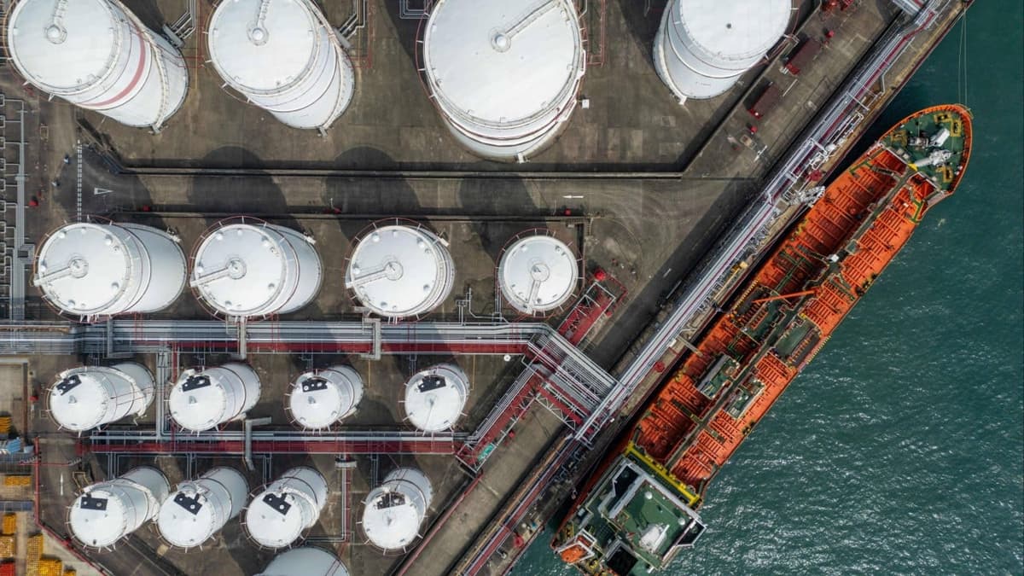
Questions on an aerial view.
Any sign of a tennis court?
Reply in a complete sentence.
No, there's no tennis court here.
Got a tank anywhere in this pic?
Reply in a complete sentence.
Yes, looking at the shot, I can spot a tank.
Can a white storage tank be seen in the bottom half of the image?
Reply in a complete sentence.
Yes, a white storage tank appears in the bottom half of the image.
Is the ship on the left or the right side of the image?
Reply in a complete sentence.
The ship sits on the right side.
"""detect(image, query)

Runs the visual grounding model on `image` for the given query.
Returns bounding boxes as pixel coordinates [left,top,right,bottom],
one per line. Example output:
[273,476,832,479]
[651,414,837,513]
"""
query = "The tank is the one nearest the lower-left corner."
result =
[64,465,173,551]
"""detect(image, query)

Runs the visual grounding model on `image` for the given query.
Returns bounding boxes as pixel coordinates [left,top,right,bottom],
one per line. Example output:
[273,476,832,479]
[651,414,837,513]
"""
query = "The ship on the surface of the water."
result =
[551,100,972,576]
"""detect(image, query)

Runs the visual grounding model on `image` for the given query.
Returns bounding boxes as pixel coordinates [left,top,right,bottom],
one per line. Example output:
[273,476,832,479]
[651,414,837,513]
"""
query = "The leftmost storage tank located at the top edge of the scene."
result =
[3,0,190,133]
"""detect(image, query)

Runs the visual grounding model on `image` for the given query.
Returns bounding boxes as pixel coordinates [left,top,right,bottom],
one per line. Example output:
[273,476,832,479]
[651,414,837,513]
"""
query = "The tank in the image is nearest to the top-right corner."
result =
[651,0,798,101]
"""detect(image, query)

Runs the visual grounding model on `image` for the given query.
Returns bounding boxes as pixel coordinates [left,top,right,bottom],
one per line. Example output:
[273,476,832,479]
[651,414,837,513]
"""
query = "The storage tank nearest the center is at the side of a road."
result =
[491,226,585,320]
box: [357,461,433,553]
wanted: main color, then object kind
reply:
white storage tank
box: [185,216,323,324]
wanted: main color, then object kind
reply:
white storage tank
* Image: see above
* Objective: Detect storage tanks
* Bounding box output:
[357,461,433,553]
[399,361,473,437]
[41,362,156,435]
[165,362,263,436]
[28,215,187,322]
[154,461,250,551]
[285,364,368,435]
[3,0,190,133]
[185,216,323,324]
[417,0,589,165]
[491,226,585,320]
[64,465,173,551]
[242,465,329,551]
[651,0,798,101]
[203,0,355,135]
[344,217,454,325]
[254,547,346,576]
